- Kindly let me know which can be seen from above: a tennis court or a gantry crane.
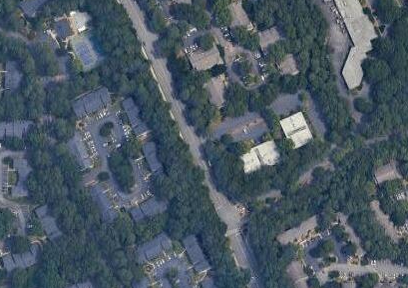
tennis court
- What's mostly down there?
trees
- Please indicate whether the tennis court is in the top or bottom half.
top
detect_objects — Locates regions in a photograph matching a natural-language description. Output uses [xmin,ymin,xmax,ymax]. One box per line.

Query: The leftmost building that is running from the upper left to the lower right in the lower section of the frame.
[33,205,61,240]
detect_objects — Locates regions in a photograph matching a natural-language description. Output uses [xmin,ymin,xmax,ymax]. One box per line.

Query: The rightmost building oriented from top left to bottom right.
[370,200,402,244]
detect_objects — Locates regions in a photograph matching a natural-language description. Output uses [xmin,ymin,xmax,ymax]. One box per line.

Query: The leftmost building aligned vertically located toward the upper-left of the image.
[5,62,20,95]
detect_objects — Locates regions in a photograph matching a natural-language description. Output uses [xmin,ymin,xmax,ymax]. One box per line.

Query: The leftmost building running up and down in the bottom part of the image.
[13,156,31,196]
